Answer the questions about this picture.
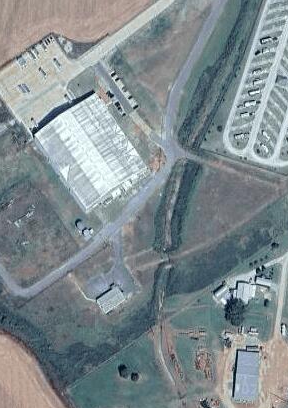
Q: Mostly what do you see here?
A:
grass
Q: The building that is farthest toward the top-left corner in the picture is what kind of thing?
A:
warehouse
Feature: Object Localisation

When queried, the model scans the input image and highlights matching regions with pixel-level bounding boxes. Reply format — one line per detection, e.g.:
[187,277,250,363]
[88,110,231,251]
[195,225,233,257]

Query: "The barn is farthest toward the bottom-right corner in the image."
[233,347,260,404]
